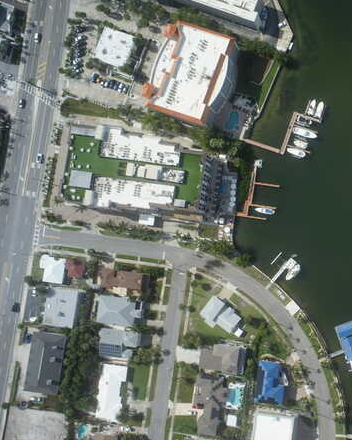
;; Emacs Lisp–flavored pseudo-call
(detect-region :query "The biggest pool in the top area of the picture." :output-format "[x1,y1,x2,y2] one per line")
[223,110,241,132]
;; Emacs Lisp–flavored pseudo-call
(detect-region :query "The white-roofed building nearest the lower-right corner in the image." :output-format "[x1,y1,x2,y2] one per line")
[253,411,296,440]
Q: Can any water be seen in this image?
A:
Yes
